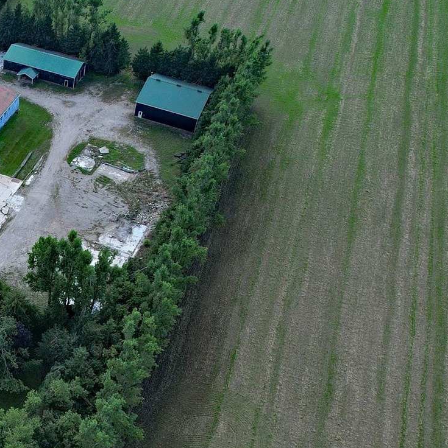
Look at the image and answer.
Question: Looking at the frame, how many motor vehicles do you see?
0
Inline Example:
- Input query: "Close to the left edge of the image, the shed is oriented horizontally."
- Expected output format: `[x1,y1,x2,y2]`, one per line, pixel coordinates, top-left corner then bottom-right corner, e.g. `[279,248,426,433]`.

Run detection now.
[2,43,89,87]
